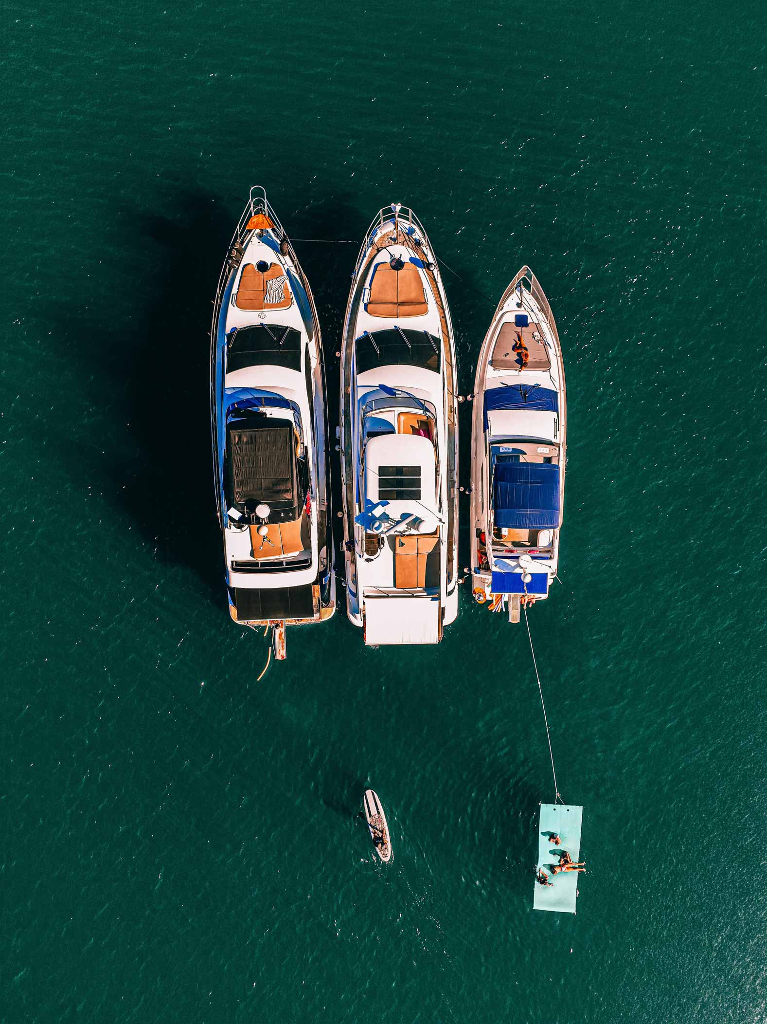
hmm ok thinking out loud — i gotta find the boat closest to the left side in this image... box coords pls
[209,185,337,660]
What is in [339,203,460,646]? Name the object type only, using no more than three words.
boat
